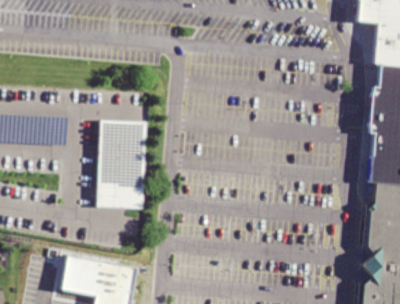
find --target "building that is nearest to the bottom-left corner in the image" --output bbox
[62,256,137,304]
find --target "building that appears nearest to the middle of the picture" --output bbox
[98,122,150,210]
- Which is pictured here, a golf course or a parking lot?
parking lot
